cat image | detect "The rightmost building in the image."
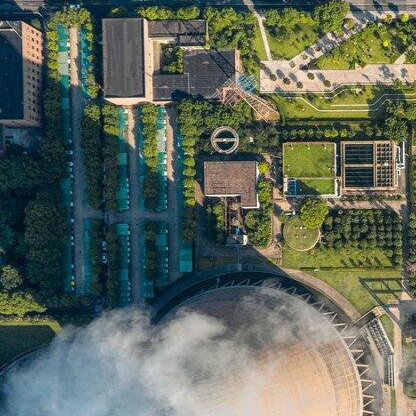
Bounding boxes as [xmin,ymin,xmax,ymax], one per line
[282,143,338,195]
